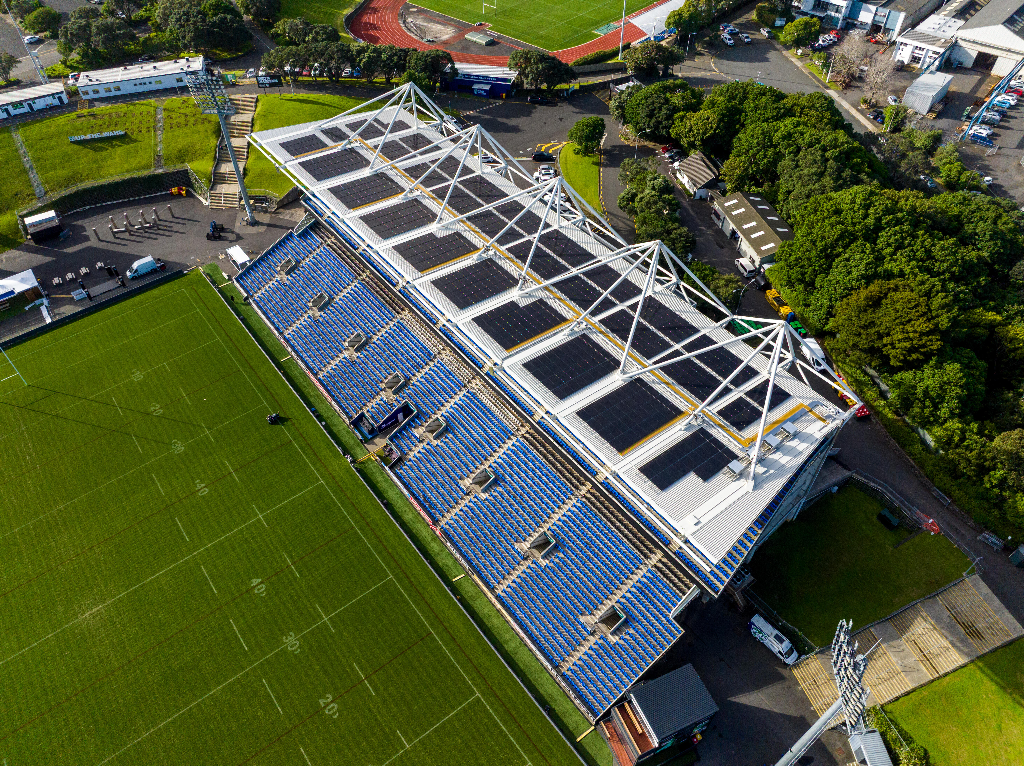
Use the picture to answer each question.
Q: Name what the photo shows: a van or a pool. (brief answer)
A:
van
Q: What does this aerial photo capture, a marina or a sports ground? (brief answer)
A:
sports ground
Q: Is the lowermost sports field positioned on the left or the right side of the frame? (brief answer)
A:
left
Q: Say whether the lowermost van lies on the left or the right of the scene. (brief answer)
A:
right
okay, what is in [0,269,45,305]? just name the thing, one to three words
tent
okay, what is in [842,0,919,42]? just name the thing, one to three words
building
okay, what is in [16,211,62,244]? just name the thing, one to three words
shed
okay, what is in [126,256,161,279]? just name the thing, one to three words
vehicle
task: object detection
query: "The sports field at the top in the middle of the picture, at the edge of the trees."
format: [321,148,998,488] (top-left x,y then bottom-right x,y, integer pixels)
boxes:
[408,0,663,50]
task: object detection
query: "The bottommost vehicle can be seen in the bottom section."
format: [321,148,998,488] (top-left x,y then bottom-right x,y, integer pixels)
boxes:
[742,611,799,665]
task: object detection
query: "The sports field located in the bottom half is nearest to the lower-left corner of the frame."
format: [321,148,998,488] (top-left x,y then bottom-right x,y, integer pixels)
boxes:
[0,268,578,766]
